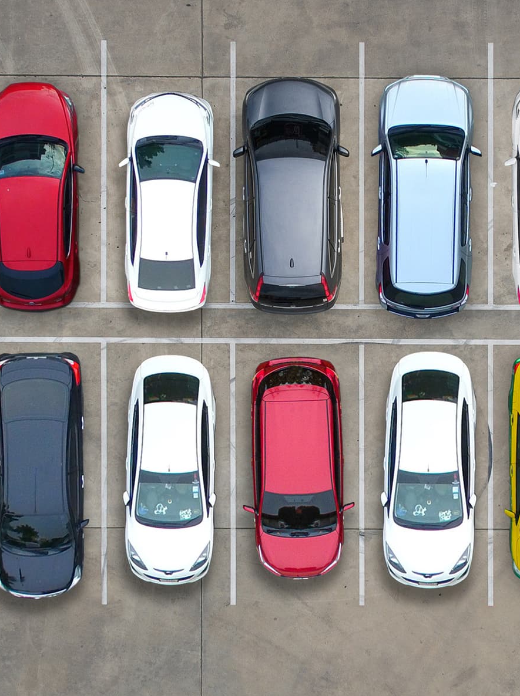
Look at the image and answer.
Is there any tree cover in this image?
No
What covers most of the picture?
paved ground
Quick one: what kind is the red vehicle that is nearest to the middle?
automobile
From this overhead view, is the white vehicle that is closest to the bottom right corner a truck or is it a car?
car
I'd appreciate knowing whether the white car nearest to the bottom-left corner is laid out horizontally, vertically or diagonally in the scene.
vertically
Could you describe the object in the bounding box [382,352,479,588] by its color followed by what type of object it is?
white car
